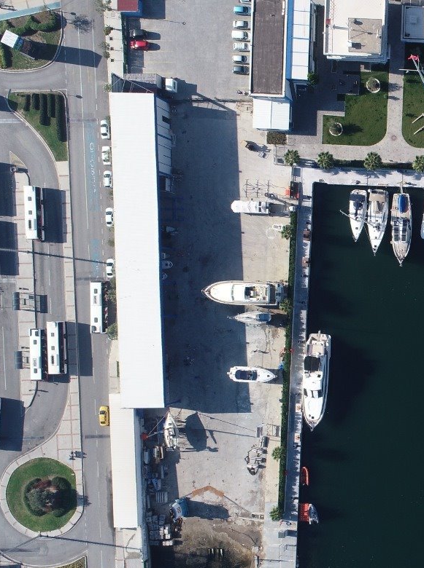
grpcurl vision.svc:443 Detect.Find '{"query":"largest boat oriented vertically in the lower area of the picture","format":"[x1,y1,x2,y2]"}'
[300,326,332,430]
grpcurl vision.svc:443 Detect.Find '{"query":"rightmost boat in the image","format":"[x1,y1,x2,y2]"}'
[385,181,413,266]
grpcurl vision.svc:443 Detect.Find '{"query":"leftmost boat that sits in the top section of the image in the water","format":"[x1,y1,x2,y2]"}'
[339,187,367,241]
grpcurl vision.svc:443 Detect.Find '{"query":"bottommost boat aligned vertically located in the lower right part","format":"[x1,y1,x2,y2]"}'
[308,503,320,527]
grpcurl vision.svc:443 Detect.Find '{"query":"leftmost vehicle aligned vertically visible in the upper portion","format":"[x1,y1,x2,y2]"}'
[26,187,46,240]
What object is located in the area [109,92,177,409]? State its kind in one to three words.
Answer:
building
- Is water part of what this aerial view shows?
Yes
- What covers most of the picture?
paved ground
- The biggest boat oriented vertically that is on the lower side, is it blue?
No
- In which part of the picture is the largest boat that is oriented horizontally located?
center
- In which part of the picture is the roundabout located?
bottom left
